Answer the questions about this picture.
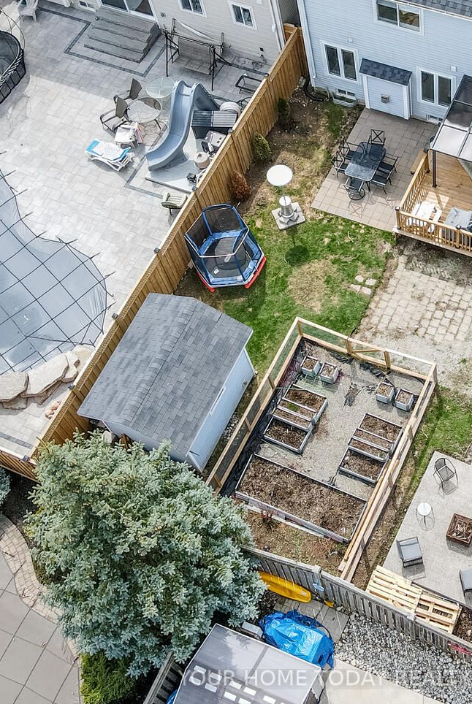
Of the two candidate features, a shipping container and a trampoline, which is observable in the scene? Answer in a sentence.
The one in the frame is a trampoline.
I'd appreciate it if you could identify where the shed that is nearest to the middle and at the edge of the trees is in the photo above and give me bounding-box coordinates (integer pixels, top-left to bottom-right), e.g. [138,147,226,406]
[80,298,255,469]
